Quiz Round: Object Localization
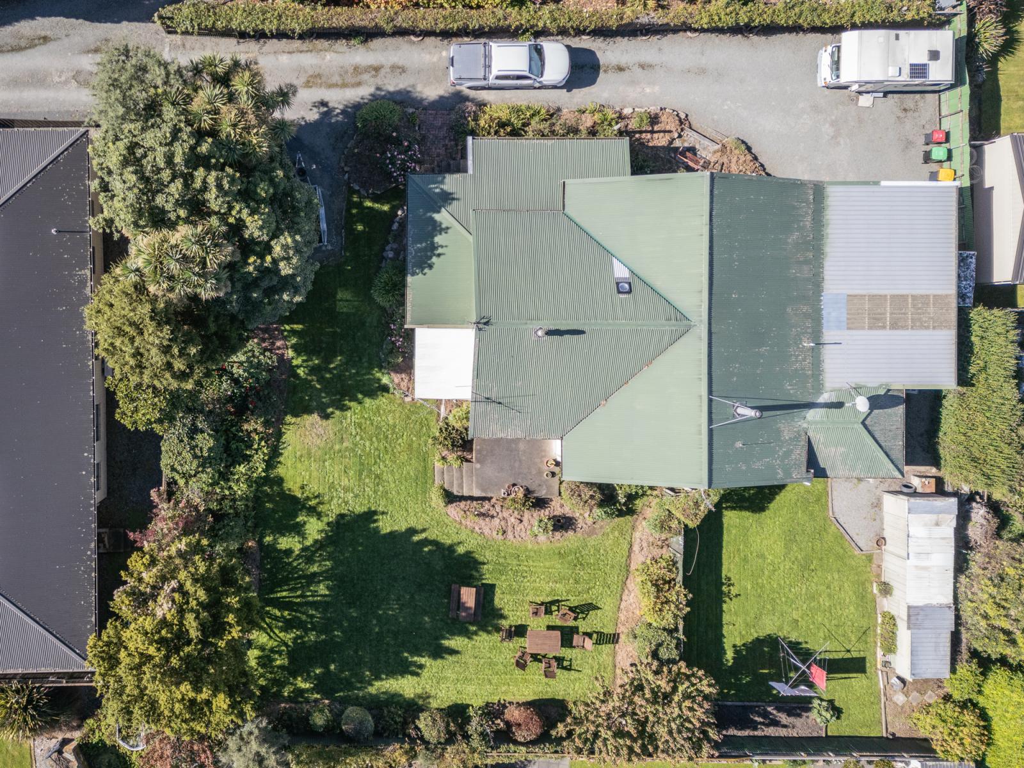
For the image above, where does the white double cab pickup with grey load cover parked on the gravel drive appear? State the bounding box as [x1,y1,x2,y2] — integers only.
[444,36,569,91]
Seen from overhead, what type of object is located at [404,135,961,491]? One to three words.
house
